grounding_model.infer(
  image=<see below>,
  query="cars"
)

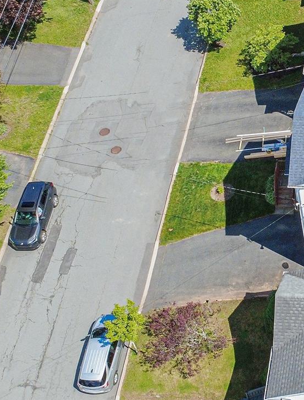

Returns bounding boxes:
[73,310,125,394]
[1,182,55,253]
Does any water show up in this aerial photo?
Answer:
No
